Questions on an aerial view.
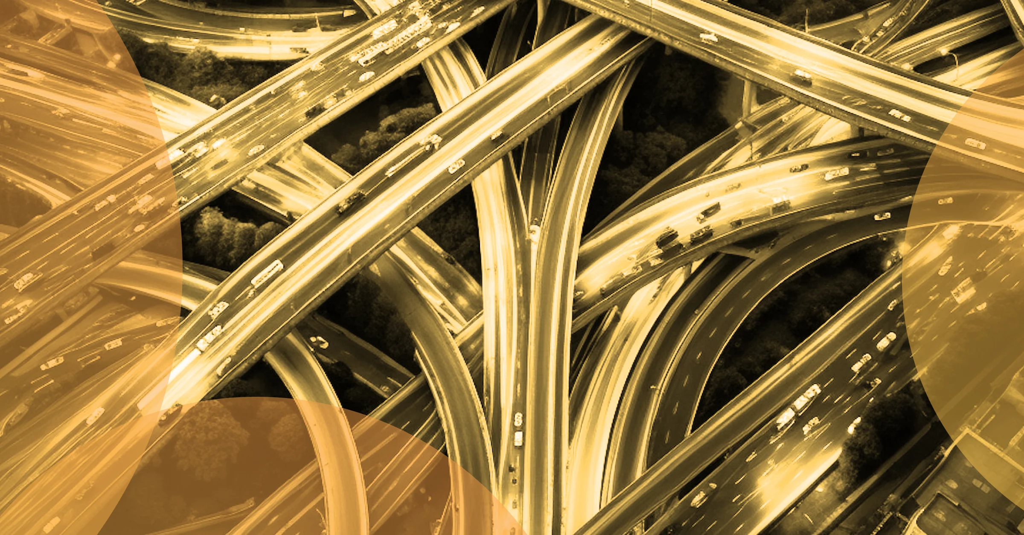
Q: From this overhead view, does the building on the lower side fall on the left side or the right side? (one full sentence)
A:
It is on the right.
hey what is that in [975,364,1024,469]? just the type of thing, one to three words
building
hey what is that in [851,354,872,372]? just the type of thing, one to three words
vehicle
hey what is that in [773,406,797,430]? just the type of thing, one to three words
truck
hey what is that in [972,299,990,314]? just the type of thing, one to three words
car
